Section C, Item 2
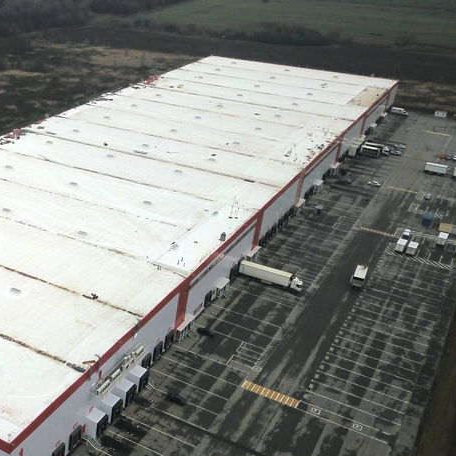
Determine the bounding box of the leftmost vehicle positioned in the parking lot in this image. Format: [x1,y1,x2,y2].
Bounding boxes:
[165,389,186,404]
